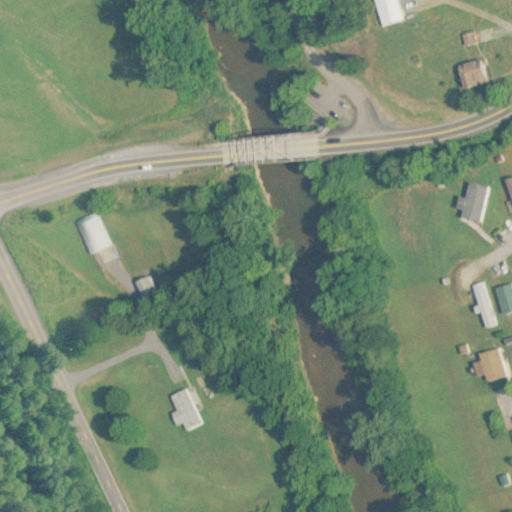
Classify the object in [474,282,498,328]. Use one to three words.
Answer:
house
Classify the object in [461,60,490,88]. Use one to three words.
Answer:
house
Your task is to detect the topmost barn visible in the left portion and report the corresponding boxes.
[78,213,112,256]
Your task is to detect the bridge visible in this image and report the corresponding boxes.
[216,132,326,172]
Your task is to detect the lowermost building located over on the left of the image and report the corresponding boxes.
[172,388,204,432]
